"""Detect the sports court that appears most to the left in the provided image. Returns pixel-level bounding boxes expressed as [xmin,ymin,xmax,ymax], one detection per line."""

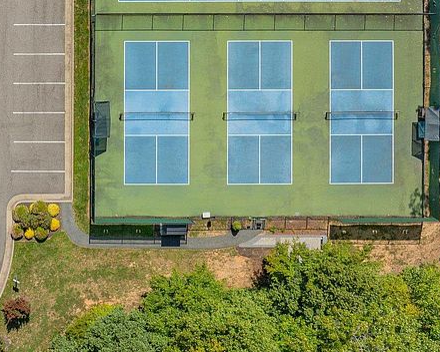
[94,16,208,216]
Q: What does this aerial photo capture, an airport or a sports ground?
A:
sports ground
